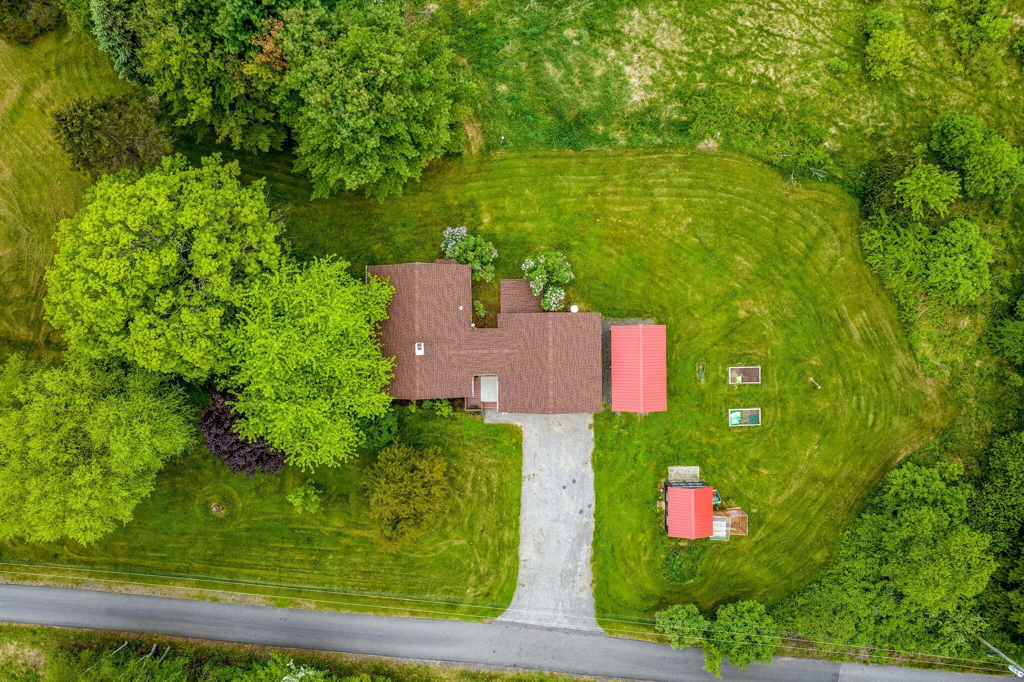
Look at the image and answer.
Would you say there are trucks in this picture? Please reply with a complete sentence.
No, the frame has no truck in it.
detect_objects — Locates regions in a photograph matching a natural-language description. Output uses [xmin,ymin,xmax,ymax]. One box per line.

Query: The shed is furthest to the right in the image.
[665,481,713,542]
